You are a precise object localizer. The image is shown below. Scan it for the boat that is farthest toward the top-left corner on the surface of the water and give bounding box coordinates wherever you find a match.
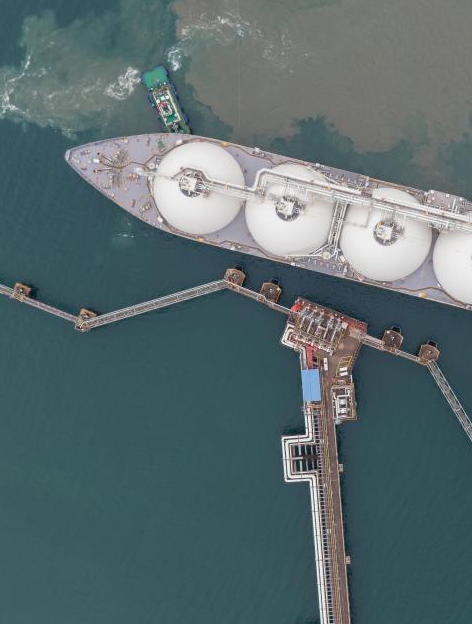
[141,63,190,136]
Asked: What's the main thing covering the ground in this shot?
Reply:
water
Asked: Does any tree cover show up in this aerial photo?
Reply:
No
